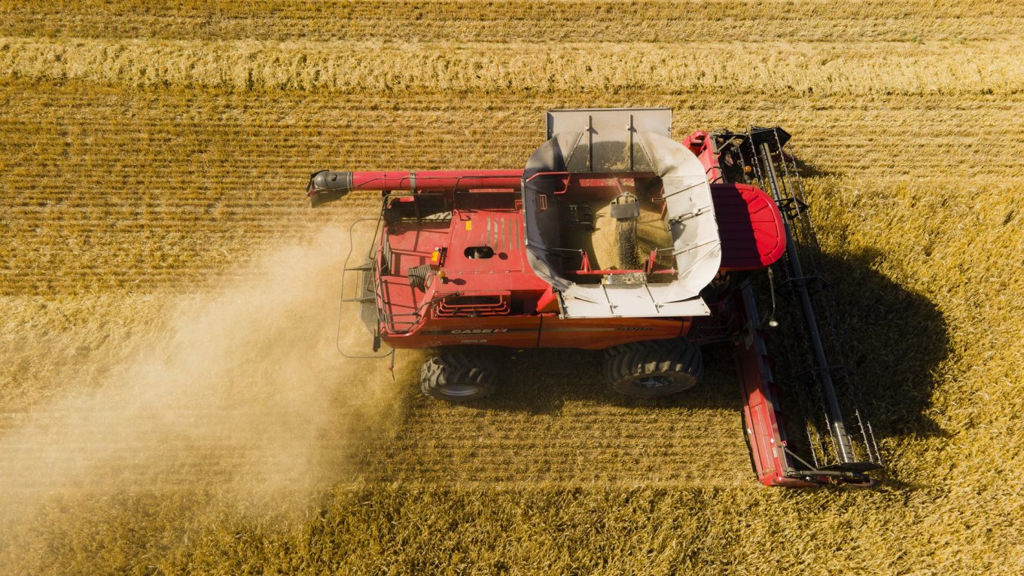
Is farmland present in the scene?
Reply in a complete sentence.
Yes, there is farmland in the image.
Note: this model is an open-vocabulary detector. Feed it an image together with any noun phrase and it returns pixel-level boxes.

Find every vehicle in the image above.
[307,108,891,487]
